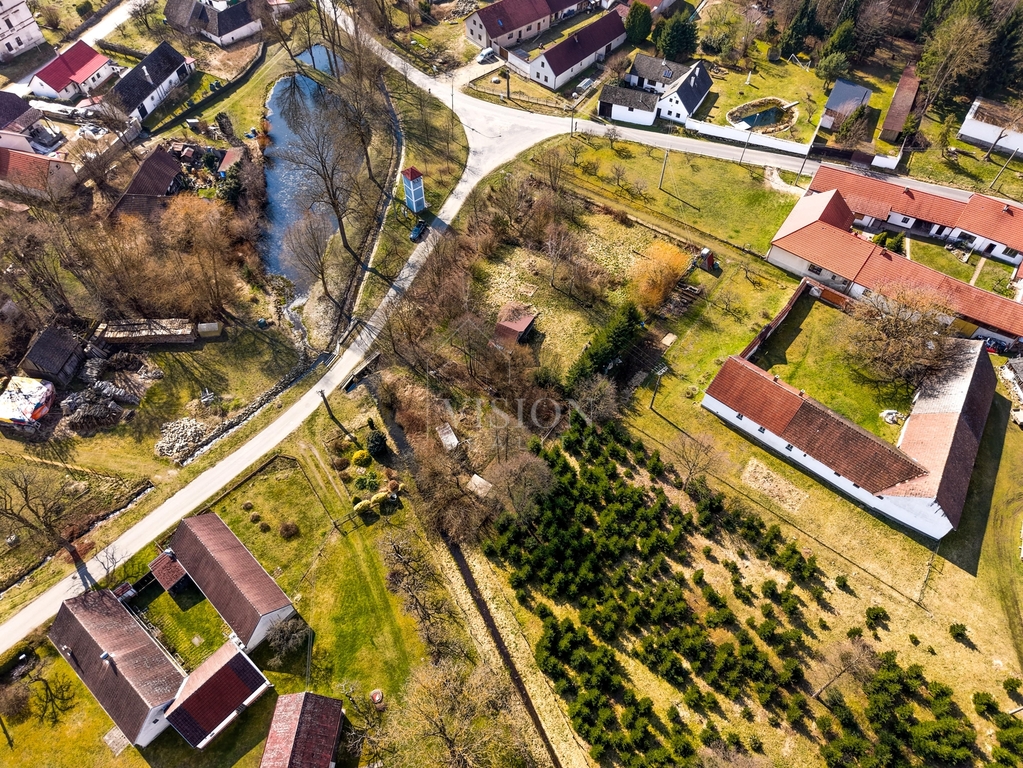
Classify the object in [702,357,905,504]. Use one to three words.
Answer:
barn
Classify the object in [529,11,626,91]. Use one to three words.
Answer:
house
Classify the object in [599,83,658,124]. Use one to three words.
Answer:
shed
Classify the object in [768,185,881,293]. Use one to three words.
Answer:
house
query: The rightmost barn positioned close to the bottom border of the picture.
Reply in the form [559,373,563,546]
[263,692,345,768]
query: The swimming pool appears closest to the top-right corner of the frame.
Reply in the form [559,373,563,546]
[743,107,786,131]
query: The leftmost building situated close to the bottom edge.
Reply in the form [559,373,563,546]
[47,589,192,744]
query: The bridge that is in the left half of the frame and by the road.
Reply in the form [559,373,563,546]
[324,317,379,387]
